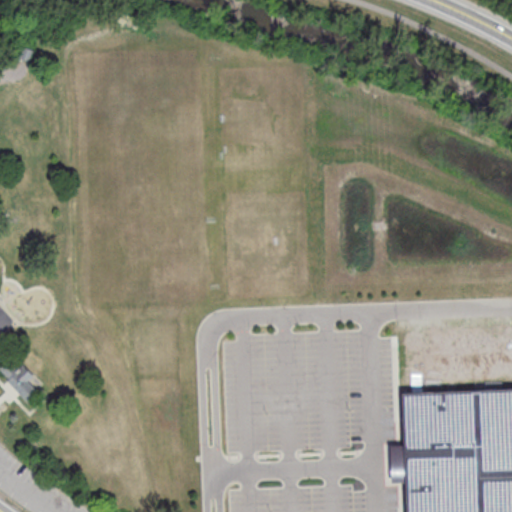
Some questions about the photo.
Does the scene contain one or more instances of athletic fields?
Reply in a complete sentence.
Yes, this view includes an athletic field.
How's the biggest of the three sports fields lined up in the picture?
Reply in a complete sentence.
In this picture, the biggest of the three sports fields is oriented from top to bottom.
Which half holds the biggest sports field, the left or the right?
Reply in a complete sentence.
The biggest sports field is on the left side of the image.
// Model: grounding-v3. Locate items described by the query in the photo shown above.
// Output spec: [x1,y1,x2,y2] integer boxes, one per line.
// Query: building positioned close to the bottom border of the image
[390,390,512,512]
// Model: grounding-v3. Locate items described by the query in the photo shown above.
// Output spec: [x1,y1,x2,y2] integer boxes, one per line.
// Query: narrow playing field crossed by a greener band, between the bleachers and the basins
[224,64,308,297]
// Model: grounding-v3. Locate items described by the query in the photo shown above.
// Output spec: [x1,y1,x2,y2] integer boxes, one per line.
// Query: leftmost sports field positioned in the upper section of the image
[77,48,207,305]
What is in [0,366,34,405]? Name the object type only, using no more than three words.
house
